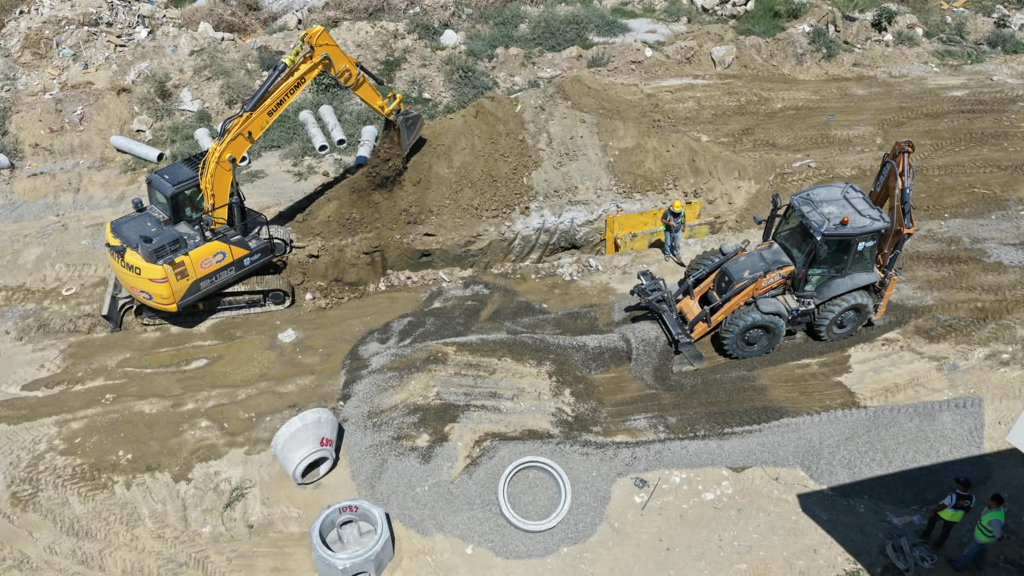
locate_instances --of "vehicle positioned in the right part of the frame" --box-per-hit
[628,140,935,372]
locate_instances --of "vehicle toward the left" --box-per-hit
[102,27,426,332]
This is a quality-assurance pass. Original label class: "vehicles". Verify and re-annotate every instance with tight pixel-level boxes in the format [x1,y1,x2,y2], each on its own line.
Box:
[102,27,426,332]
[628,140,935,372]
